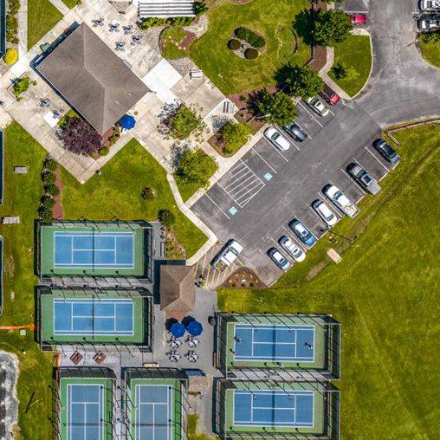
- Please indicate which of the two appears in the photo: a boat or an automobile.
automobile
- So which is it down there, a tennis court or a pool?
tennis court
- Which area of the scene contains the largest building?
top left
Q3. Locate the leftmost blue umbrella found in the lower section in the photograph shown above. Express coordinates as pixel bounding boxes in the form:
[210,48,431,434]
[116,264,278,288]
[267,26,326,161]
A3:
[170,322,184,336]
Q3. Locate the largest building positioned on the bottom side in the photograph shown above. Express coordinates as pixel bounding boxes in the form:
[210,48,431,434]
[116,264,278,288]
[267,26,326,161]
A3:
[160,264,195,312]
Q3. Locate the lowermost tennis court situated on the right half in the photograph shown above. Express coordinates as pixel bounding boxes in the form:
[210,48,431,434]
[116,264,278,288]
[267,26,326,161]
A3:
[217,379,339,440]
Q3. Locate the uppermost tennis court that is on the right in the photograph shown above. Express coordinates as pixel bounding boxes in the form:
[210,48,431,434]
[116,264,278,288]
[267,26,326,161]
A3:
[218,314,340,384]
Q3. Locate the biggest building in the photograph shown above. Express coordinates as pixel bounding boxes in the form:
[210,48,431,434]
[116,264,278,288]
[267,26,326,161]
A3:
[37,23,149,135]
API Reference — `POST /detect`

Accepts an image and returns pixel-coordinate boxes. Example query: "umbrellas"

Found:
[170,322,184,336]
[119,114,134,129]
[188,321,202,335]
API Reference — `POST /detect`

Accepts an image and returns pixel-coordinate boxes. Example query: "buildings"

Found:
[160,264,195,312]
[37,23,149,135]
[186,371,207,392]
